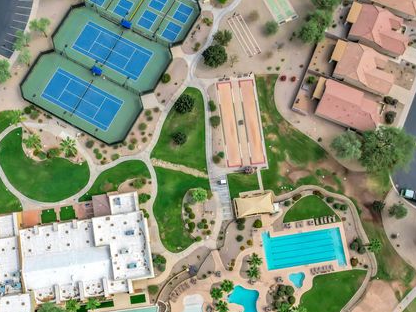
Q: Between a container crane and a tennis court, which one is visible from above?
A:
tennis court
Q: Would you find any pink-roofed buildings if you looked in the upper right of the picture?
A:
Yes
